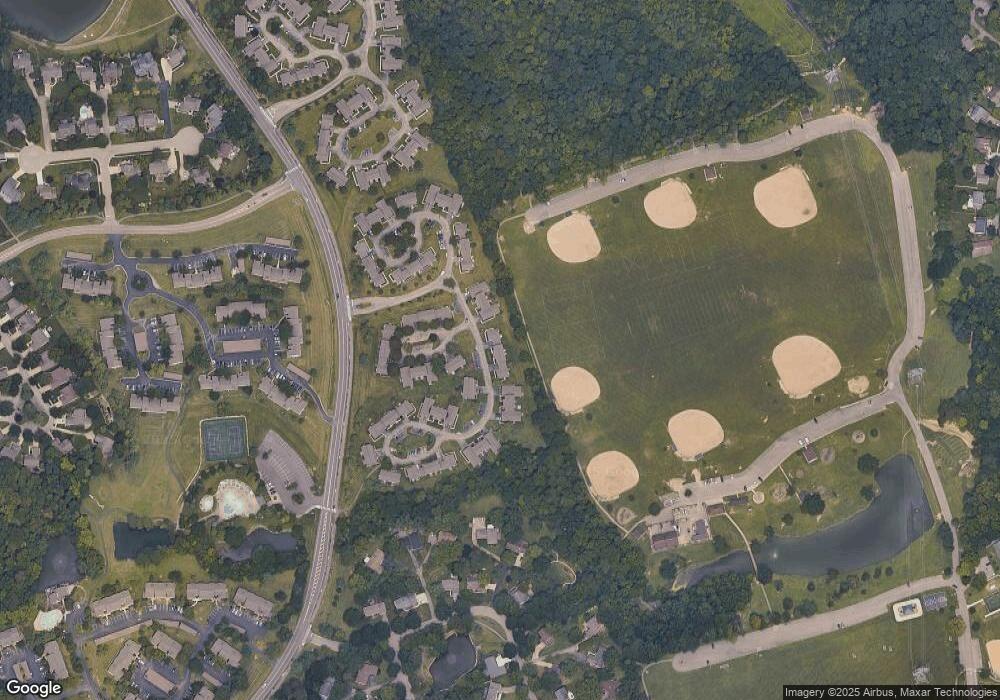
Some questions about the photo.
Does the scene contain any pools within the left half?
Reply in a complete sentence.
Yes, you'll find a pool within the left half.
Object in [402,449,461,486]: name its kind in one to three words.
building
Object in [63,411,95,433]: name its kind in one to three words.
house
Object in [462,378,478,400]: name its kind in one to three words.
building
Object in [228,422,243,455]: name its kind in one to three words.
tennis court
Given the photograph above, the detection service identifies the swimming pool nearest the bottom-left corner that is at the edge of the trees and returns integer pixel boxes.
[34,610,62,632]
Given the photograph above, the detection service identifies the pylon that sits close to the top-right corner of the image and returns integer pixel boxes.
[824,68,845,87]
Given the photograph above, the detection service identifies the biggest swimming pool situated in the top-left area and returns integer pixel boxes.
[79,105,94,120]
